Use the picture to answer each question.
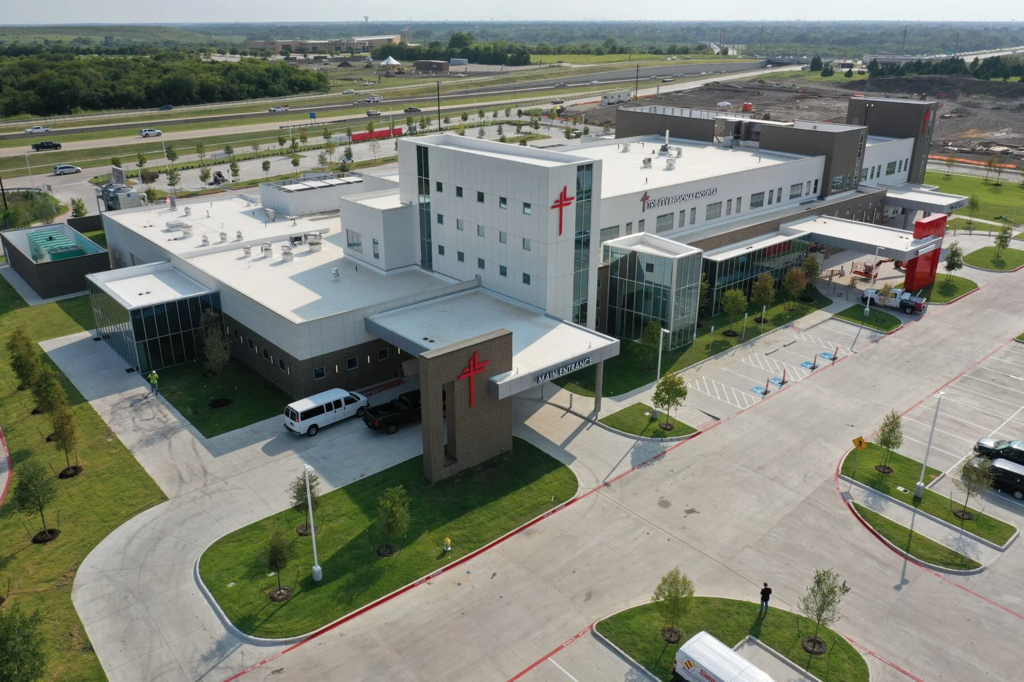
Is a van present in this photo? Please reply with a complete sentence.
Yes, the picture does show a van.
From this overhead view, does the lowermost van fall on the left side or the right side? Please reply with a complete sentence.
It is on the right.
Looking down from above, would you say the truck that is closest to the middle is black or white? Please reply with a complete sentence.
The color of the truck that is closest to the middle is black.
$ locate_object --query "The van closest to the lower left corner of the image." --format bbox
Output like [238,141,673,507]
[287,384,378,431]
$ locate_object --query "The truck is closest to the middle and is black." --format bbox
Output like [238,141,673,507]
[368,386,421,430]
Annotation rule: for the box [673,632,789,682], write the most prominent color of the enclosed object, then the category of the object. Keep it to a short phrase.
white van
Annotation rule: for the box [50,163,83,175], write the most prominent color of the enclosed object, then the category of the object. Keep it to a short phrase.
gray vehicle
